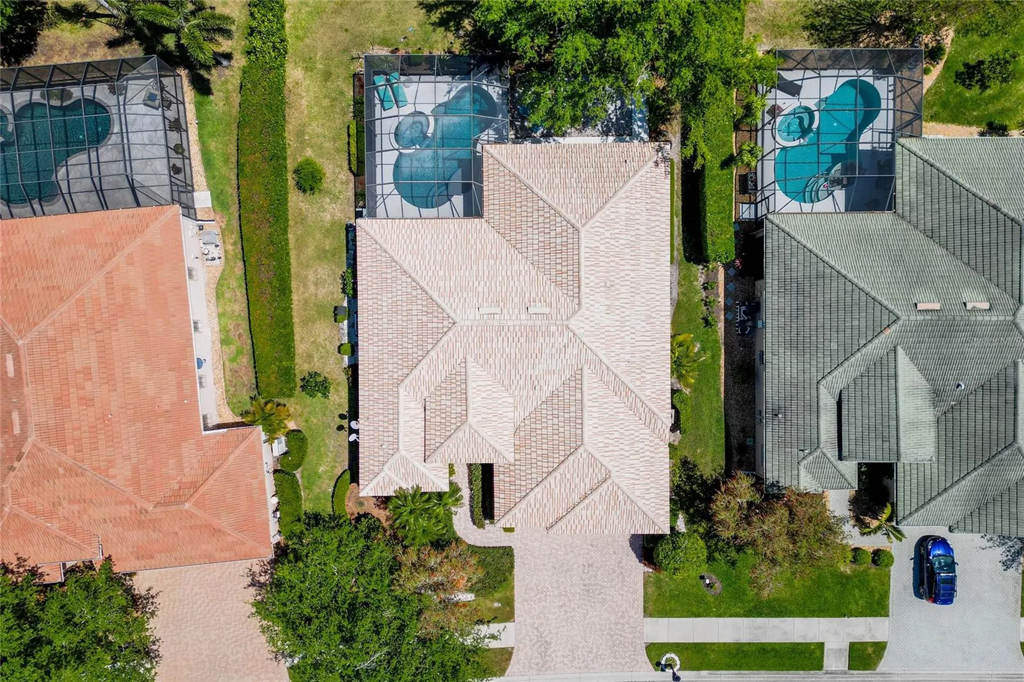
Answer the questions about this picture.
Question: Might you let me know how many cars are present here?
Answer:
one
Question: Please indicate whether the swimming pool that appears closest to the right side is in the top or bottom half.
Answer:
top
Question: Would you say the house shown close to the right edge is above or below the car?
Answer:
above it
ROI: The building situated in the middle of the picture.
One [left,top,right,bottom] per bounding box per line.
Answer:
[355,140,673,536]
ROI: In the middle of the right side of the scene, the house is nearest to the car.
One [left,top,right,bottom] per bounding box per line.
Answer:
[754,136,1024,539]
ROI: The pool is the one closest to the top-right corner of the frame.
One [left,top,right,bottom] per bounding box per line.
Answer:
[770,74,886,207]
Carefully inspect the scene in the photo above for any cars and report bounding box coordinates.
[916,533,959,606]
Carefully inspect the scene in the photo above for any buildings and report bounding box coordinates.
[355,140,673,536]
[0,202,277,588]
[754,136,1024,539]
